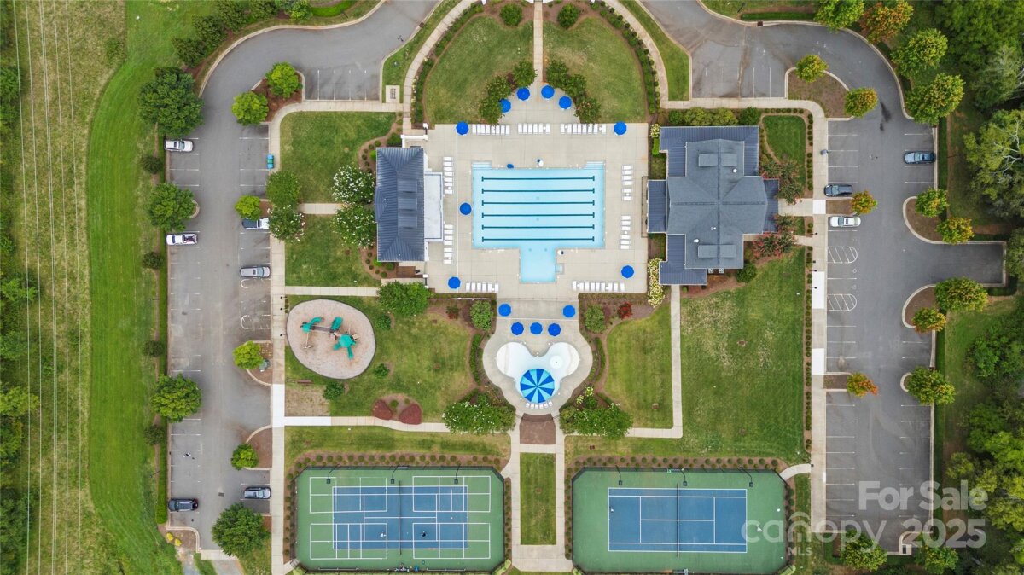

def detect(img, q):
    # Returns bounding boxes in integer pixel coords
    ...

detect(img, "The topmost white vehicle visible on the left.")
[163,139,195,152]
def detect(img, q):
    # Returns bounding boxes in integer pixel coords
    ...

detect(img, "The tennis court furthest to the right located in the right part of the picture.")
[574,472,786,573]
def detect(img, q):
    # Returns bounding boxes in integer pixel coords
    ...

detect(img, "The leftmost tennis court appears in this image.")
[296,471,503,571]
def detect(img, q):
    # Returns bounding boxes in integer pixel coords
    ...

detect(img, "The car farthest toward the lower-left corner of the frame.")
[169,498,199,512]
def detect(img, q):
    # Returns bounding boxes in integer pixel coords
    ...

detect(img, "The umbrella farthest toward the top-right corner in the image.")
[614,121,627,134]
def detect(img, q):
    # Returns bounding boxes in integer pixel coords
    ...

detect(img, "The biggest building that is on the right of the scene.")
[648,126,779,285]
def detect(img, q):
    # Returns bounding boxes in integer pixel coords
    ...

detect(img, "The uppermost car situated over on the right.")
[904,150,936,164]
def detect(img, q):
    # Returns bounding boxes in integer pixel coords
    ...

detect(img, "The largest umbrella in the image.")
[520,370,555,404]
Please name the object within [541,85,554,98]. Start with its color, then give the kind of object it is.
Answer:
blue umbrella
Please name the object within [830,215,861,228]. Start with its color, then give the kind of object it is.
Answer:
white vehicle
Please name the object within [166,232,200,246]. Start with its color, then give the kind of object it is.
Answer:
white vehicle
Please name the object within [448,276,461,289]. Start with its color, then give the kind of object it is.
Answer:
blue umbrella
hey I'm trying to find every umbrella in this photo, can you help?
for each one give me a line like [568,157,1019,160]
[511,322,524,335]
[498,303,511,316]
[559,96,572,109]
[499,99,511,112]
[541,85,554,98]
[520,370,555,404]
[448,276,461,289]
[548,323,561,336]
[517,87,530,100]
[459,202,472,215]
[621,265,634,278]
[563,305,576,318]
[455,122,468,134]
[614,121,627,134]
[530,322,543,335]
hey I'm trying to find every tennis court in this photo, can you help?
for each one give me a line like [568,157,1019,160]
[574,472,786,573]
[296,471,503,571]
